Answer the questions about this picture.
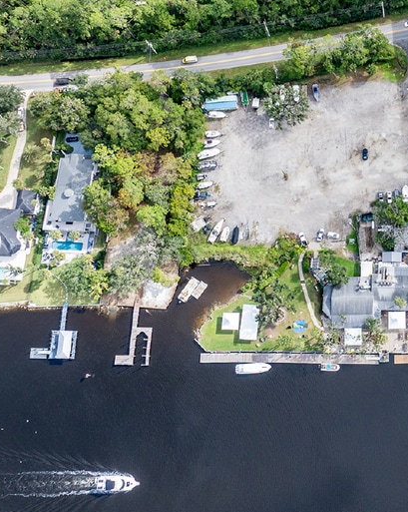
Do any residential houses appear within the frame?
Yes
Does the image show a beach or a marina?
marina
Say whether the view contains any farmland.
No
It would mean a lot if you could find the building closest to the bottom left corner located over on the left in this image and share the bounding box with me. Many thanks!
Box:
[30,308,81,359]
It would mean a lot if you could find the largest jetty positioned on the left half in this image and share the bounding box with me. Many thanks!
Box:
[114,305,155,366]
